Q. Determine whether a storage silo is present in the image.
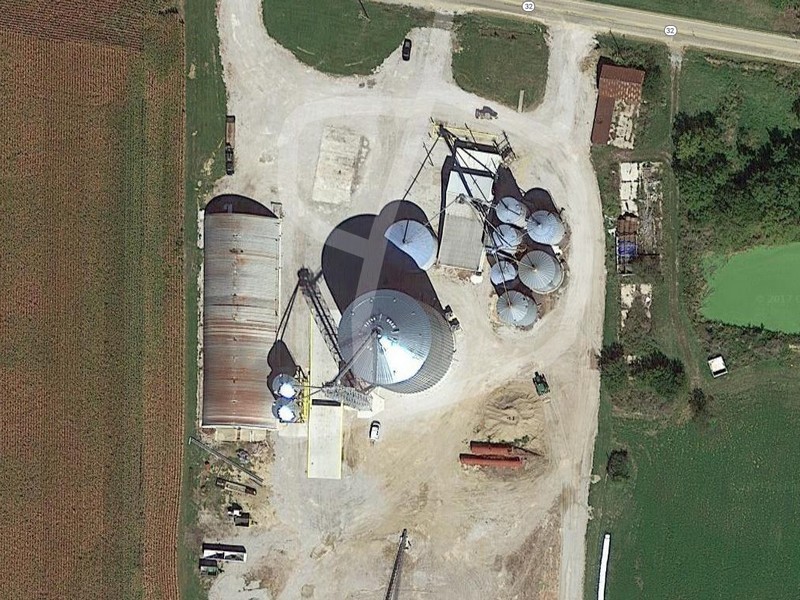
Yes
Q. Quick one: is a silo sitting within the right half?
Yes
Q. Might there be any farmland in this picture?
Yes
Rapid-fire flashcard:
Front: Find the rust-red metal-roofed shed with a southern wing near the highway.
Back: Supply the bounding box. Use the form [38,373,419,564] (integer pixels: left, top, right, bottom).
[592,65,646,145]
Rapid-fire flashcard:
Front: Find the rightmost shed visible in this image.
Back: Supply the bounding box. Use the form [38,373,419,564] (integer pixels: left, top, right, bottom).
[708,355,729,379]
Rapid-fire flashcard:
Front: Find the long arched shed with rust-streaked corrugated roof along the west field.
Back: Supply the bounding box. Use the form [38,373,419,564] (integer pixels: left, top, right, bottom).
[204,214,280,430]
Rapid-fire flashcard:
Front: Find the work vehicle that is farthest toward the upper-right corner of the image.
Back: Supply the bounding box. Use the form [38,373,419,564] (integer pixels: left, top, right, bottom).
[474,109,498,122]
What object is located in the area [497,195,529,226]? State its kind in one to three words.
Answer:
silo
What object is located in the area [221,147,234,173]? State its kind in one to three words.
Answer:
vehicle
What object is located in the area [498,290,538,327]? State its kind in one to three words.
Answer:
silo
